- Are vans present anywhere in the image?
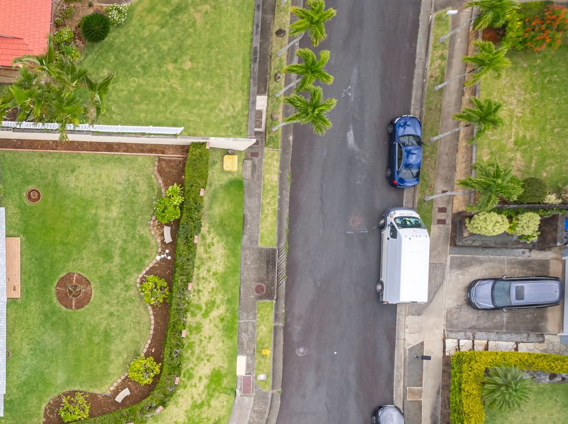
Yes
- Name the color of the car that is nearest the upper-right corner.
blue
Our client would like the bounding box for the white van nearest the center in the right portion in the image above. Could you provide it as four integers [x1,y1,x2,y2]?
[377,207,430,304]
